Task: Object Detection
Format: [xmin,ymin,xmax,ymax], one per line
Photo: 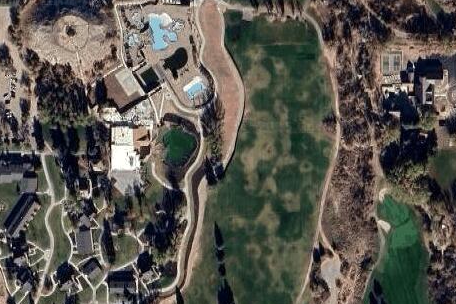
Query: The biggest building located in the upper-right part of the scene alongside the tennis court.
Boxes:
[399,58,442,108]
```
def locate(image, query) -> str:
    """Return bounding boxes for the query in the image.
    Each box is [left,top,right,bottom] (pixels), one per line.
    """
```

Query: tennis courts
[381,51,402,76]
